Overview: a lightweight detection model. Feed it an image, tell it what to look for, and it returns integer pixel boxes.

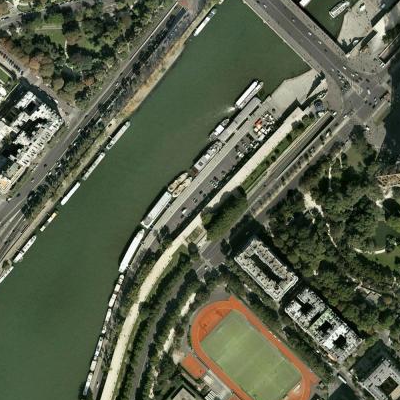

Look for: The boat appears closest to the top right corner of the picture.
[329,4,349,20]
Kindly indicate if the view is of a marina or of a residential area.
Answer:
marina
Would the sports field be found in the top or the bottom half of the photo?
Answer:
bottom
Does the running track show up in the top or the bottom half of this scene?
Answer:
bottom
